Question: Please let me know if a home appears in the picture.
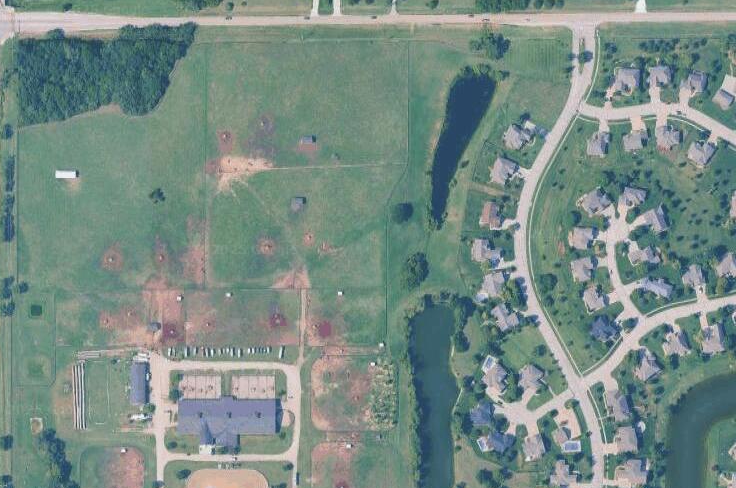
Yes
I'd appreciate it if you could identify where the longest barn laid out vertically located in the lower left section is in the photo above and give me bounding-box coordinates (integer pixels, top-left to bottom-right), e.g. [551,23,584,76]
[130,362,146,405]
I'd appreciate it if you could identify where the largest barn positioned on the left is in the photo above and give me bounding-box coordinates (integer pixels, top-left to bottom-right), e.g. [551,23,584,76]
[178,394,276,455]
